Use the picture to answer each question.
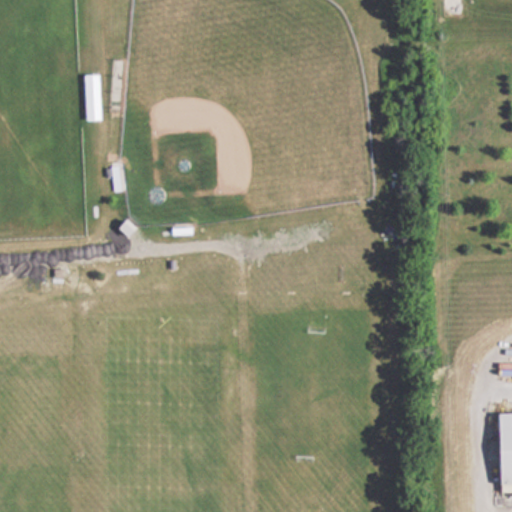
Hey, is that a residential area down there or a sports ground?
sports ground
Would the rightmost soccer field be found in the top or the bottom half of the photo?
bottom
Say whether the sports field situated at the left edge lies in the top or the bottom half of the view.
top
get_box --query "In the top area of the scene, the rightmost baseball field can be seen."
[122,0,374,226]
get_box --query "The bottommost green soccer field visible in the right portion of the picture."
[252,311,372,512]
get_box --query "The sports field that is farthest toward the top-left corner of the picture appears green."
[0,0,86,240]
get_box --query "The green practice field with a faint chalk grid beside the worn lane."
[106,316,220,512]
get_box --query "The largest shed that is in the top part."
[84,73,104,122]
